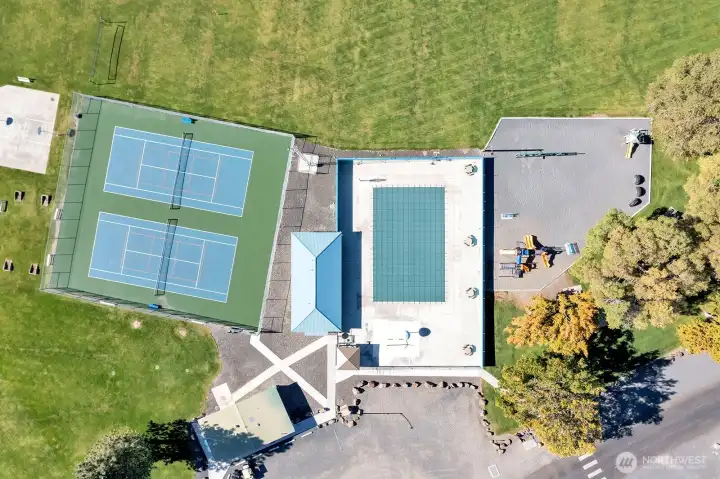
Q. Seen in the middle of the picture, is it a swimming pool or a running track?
swimming pool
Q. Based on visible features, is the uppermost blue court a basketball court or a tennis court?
tennis court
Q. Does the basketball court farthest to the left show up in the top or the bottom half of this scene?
top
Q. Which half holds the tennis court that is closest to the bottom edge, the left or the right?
left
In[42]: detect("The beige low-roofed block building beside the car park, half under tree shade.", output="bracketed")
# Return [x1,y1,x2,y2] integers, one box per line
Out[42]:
[198,385,296,465]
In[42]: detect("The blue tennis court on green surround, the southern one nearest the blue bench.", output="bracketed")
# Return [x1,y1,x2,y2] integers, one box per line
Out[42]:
[88,212,238,302]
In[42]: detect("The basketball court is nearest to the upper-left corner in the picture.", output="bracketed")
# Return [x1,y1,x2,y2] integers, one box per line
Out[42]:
[0,85,60,174]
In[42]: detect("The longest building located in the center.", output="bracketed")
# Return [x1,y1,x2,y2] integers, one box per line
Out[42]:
[290,232,342,335]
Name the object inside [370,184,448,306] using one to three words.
swimming pool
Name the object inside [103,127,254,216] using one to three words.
tennis court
